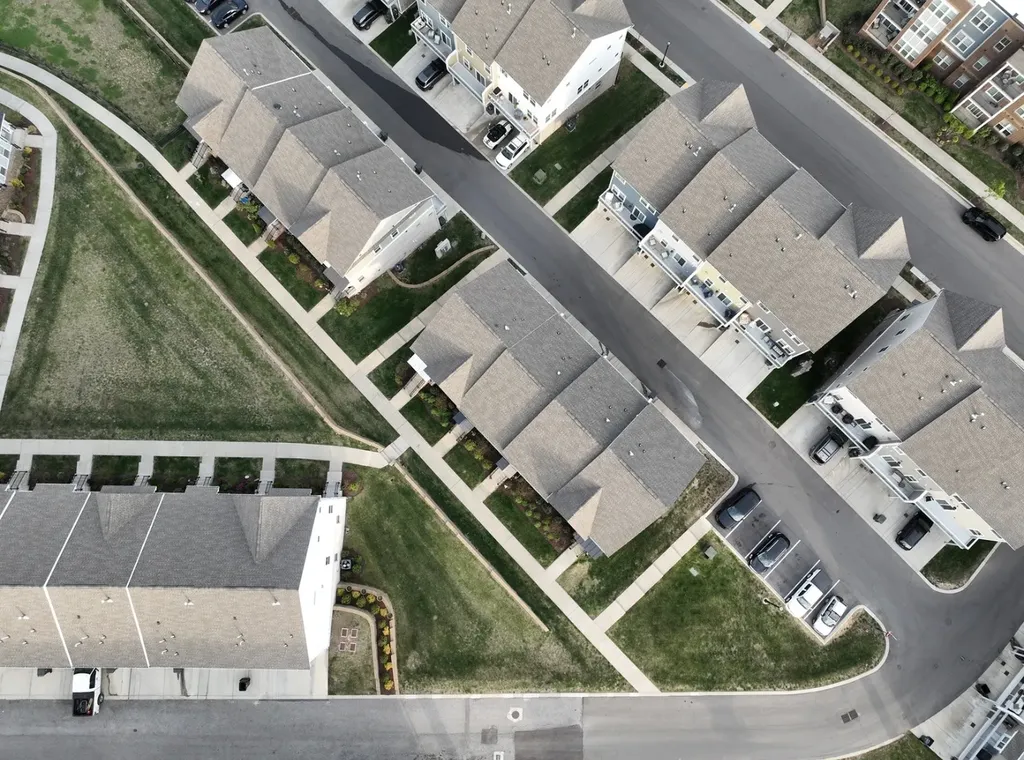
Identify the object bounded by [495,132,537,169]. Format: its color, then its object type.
white car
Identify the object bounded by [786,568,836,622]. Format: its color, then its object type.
white truck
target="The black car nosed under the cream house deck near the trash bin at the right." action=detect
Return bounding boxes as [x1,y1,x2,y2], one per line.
[899,513,940,554]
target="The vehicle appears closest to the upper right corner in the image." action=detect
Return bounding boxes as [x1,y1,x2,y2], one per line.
[963,205,1012,247]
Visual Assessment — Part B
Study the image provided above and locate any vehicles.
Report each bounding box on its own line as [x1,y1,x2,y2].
[786,568,836,622]
[811,425,853,467]
[899,513,940,554]
[749,531,795,577]
[495,132,537,169]
[71,668,103,719]
[963,205,1012,247]
[206,0,248,28]
[412,53,449,88]
[717,486,761,532]
[480,114,512,146]
[349,0,388,25]
[812,596,854,641]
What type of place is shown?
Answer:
residential area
